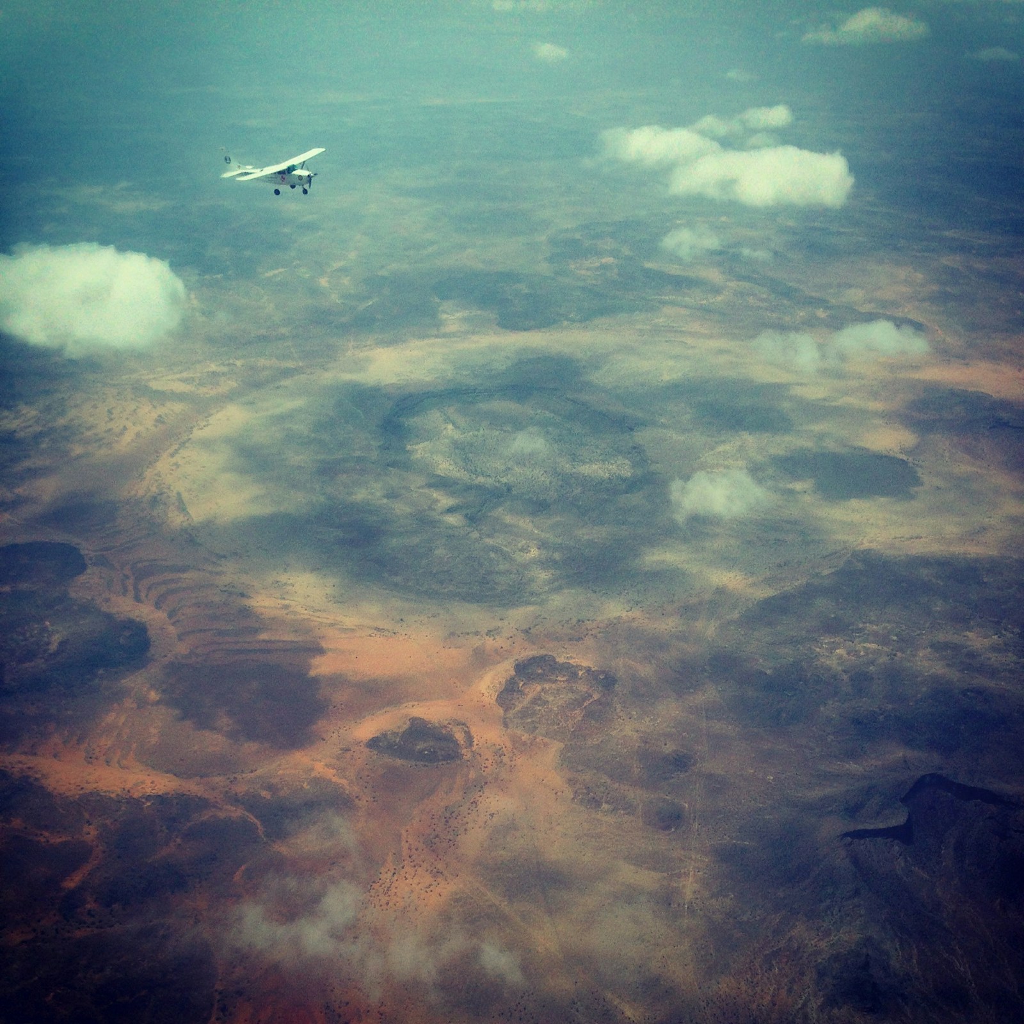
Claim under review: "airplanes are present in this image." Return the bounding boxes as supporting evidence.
[218,149,328,196]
